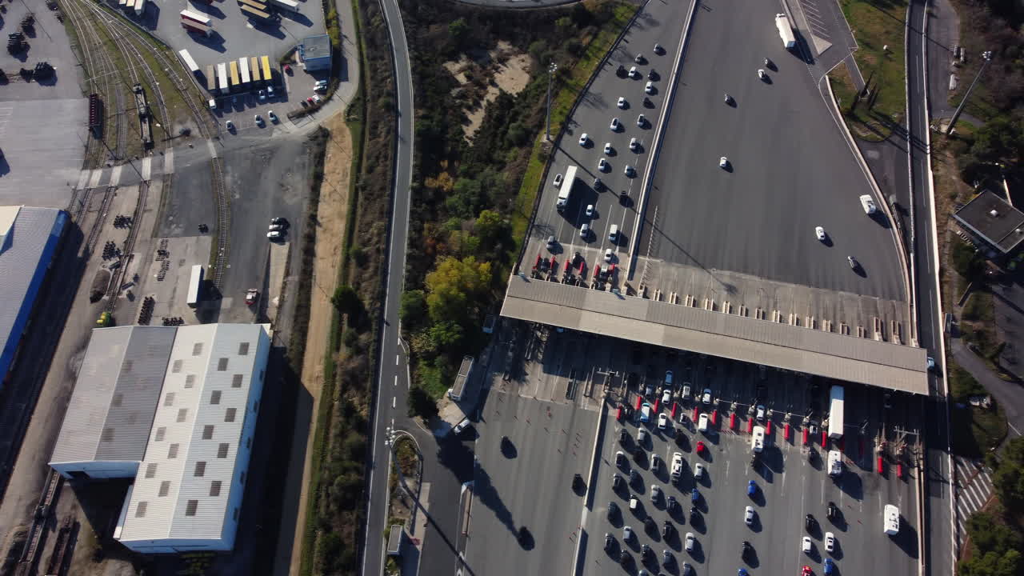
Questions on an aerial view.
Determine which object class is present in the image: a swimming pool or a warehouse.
warehouse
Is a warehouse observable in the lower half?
Yes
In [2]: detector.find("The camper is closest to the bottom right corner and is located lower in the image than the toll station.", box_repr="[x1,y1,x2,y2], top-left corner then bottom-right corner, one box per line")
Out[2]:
[885,505,900,537]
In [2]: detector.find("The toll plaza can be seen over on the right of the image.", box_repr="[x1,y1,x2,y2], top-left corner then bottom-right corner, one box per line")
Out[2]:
[497,0,909,327]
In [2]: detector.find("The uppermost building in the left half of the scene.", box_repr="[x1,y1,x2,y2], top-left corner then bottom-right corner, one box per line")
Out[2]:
[297,35,331,67]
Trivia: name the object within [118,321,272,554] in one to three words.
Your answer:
warehouse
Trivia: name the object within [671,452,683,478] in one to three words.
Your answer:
vehicle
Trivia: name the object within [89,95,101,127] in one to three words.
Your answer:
rail car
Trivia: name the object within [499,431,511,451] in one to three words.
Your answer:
vehicle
